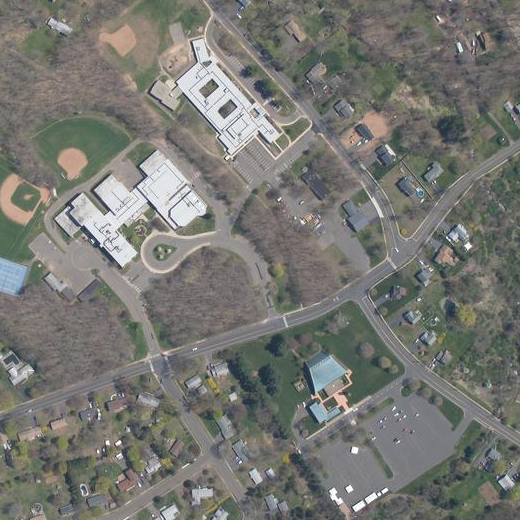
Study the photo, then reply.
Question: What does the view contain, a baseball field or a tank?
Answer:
baseball field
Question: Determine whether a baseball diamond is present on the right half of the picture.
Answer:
No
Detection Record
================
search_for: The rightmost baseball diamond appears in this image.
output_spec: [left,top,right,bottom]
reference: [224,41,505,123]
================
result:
[31,116,131,184]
